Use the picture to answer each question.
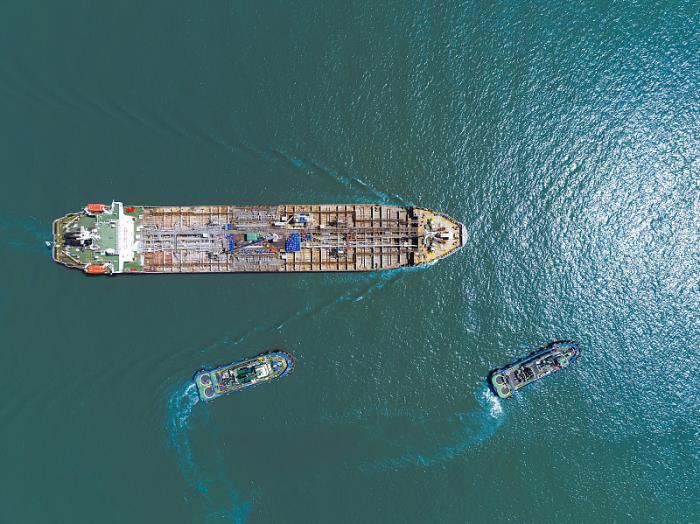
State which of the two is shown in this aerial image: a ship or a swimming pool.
ship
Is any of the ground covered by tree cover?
No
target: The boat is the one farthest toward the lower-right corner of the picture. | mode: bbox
[489,342,584,397]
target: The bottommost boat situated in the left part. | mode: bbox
[196,352,296,400]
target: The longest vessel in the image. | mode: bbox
[45,200,468,274]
